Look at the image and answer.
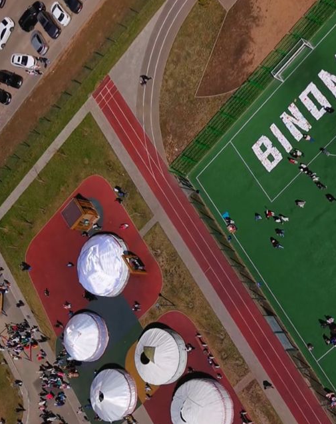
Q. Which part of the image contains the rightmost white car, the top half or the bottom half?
top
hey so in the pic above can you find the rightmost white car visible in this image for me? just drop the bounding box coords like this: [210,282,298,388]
[50,0,72,28]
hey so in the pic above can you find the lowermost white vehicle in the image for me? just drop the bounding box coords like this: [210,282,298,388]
[11,53,35,70]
